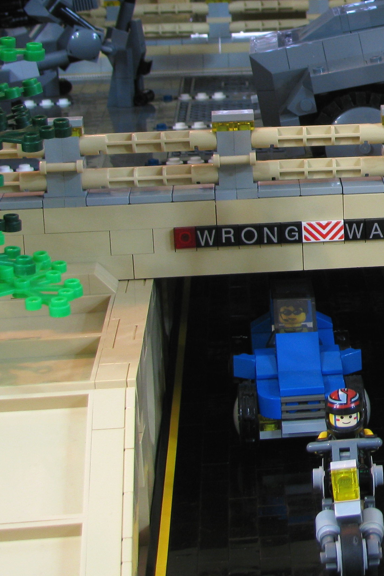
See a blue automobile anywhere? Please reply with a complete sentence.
Yes, looking at the shot, I can spot a blue automobile.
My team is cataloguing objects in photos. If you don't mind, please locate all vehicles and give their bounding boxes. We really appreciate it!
[227,281,374,436]
[248,0,384,128]
[307,433,384,570]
